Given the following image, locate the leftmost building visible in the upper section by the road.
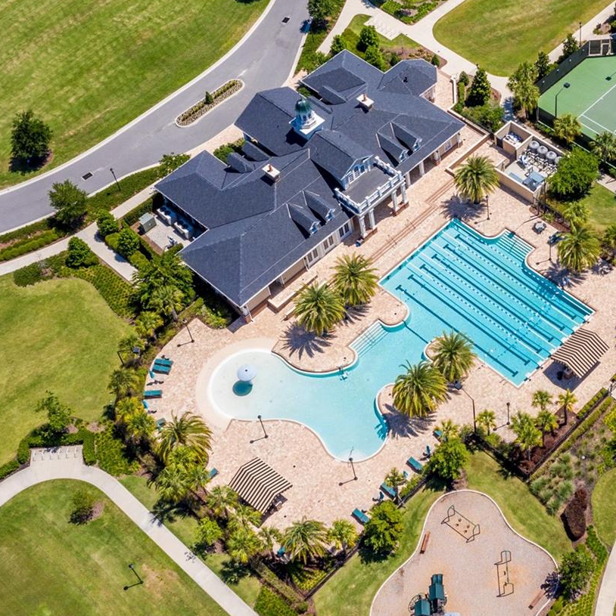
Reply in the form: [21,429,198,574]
[153,48,466,323]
